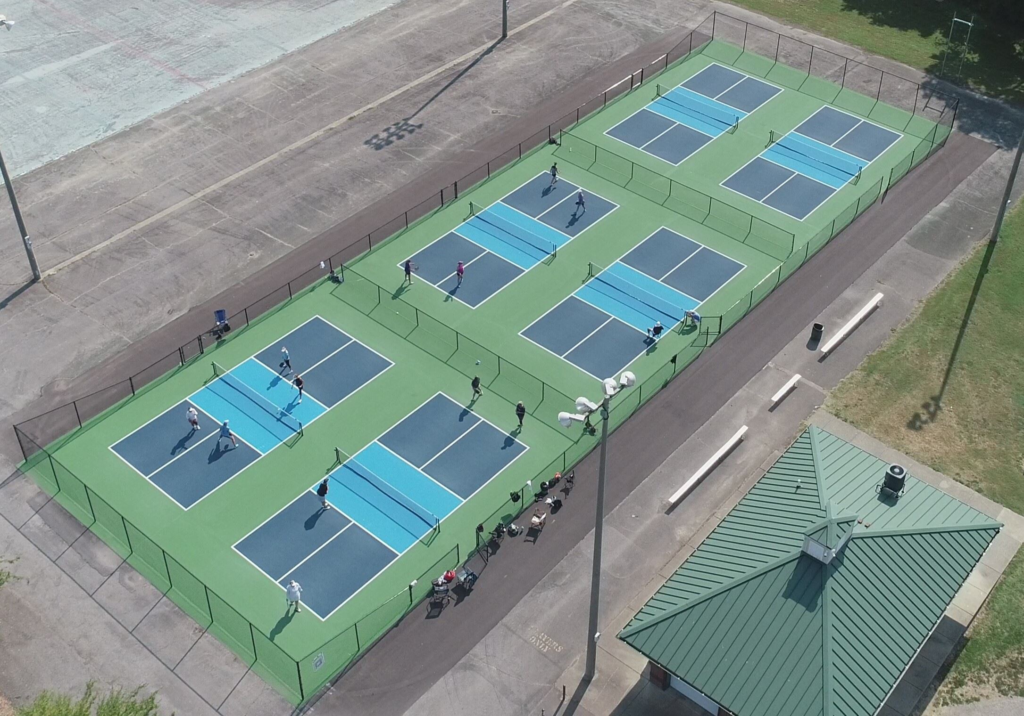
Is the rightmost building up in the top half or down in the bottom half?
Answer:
bottom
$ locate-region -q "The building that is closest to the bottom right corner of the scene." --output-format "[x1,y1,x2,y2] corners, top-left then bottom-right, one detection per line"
[612,423,1010,716]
